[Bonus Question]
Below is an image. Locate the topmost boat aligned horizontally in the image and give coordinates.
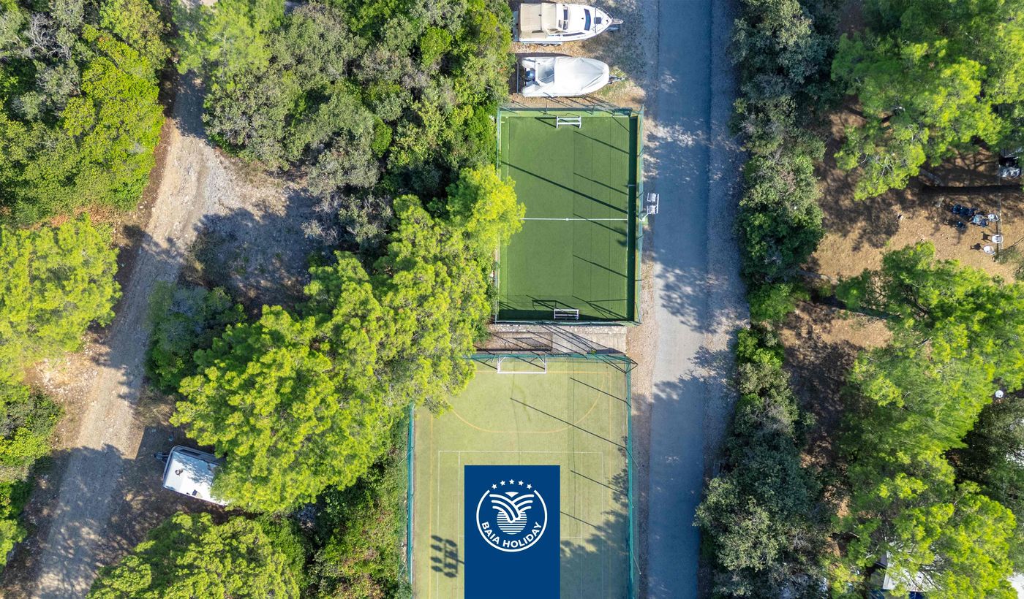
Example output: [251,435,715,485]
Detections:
[513,4,622,42]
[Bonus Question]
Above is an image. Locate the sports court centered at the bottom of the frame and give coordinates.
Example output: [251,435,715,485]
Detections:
[412,359,629,599]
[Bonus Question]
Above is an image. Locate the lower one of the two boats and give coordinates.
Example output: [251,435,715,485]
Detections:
[524,58,610,97]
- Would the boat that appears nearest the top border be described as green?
No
